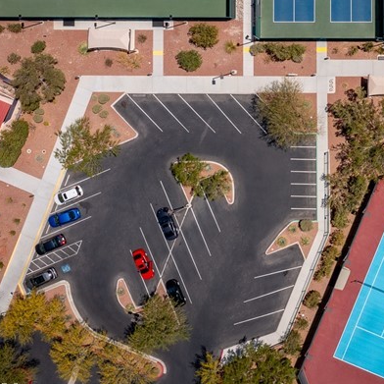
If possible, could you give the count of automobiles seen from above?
7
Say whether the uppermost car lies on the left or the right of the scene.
left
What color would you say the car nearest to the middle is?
black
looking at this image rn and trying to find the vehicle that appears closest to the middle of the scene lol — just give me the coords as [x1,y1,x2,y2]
[156,206,179,240]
